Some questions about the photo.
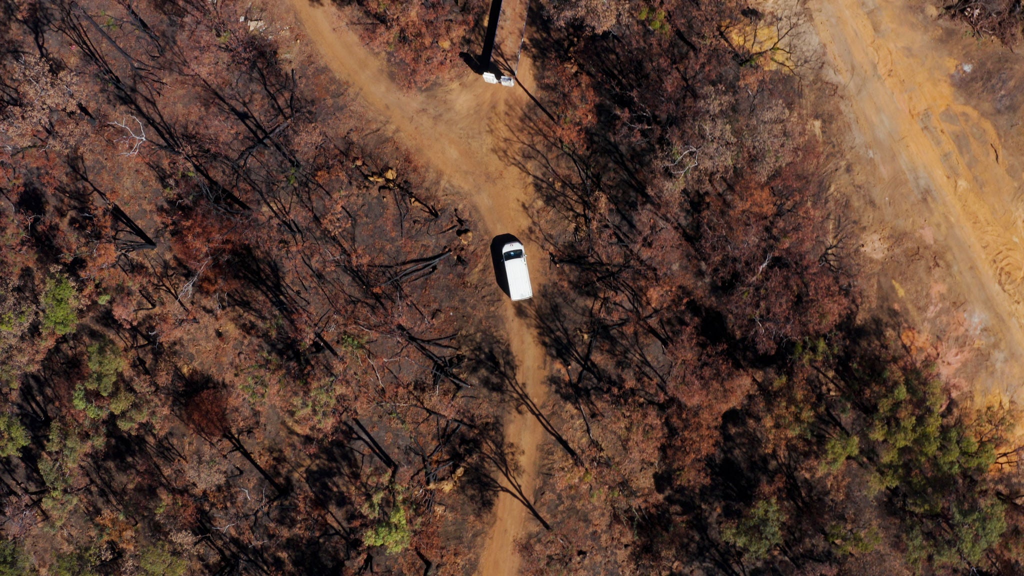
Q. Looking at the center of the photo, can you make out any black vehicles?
No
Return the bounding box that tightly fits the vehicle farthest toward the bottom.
[500,241,533,302]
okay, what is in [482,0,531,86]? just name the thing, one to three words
trailer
